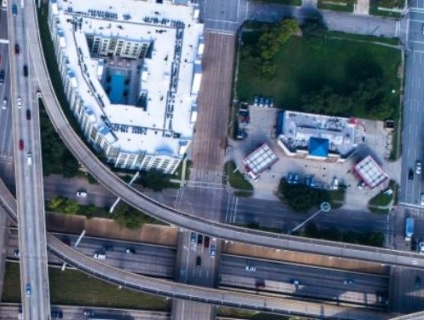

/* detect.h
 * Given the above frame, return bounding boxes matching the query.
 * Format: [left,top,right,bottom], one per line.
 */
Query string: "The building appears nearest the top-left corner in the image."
[44,0,208,174]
